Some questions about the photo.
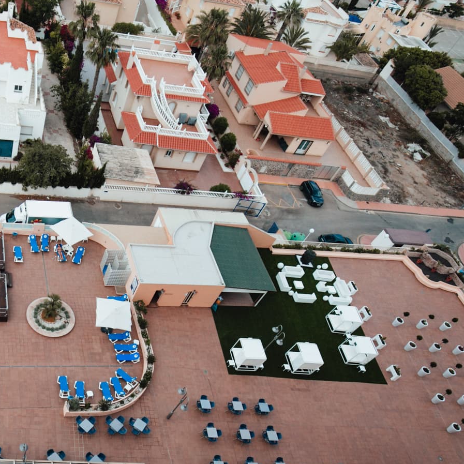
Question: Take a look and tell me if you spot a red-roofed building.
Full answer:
Yes, there's a red-roofed building down there.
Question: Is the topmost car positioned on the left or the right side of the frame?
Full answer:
The topmost car sits on the right side.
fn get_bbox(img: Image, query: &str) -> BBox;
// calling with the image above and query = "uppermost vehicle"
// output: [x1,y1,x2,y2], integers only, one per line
[299,178,324,207]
